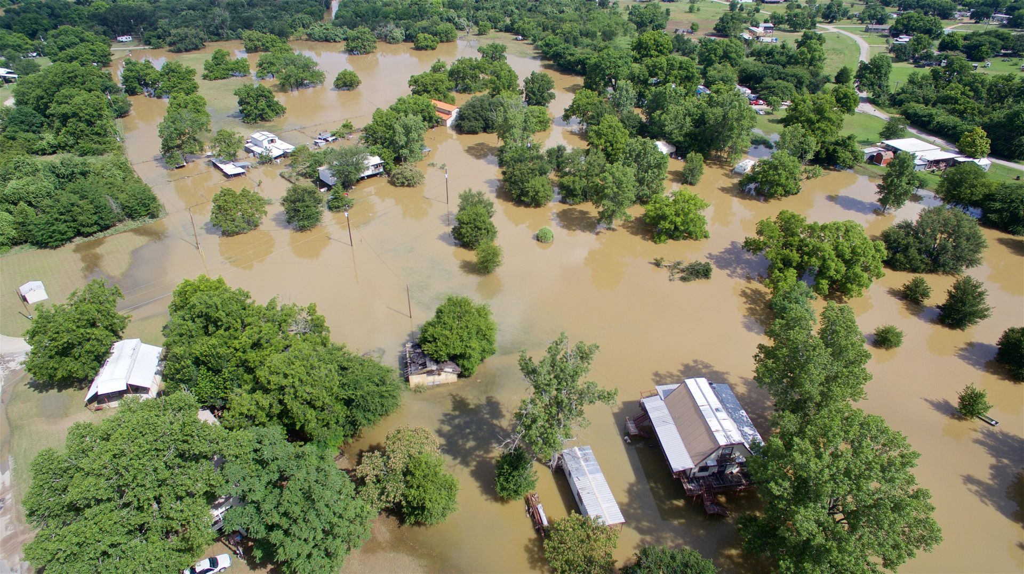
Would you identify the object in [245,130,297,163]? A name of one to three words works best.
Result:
barn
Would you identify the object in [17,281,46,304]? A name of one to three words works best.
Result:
shed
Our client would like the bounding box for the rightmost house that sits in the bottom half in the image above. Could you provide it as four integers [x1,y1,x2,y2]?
[619,373,784,540]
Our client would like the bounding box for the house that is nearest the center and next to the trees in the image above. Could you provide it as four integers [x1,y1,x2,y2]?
[402,343,460,388]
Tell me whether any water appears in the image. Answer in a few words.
Yes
